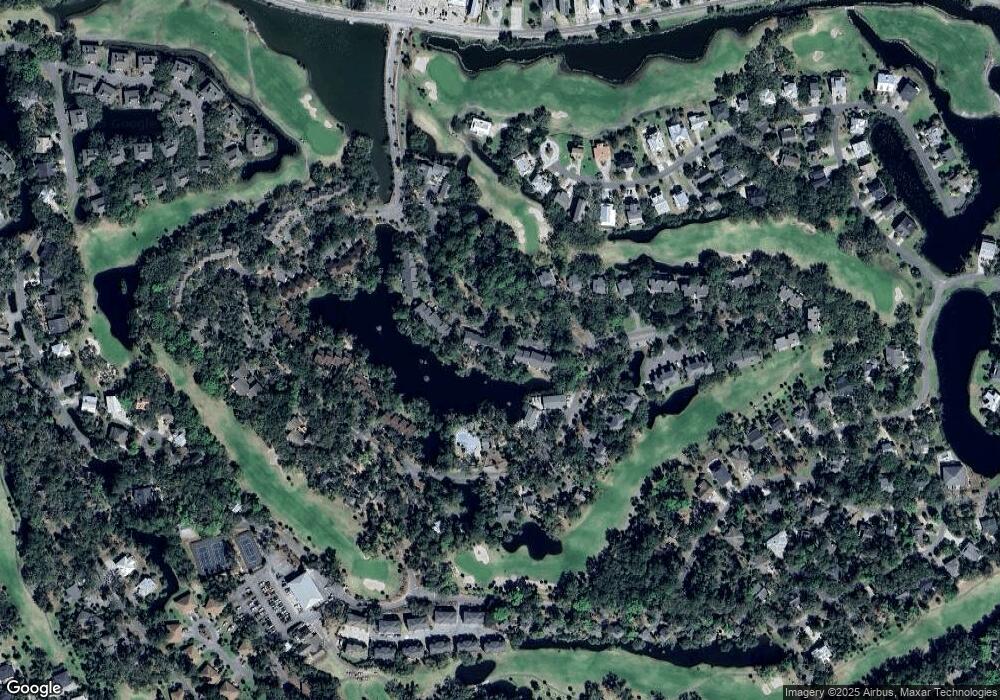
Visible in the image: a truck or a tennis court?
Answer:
tennis court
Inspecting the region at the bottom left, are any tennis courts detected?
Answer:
Yes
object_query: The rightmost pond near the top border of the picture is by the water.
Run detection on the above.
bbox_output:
[427,0,1000,275]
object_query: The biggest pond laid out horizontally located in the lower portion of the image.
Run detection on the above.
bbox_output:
[521,636,785,667]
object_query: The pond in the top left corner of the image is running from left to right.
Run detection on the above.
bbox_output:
[76,108,161,141]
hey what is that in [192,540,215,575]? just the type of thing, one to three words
tennis court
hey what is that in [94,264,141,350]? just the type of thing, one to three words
pond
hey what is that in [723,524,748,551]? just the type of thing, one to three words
house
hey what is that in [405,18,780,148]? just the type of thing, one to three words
golf course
